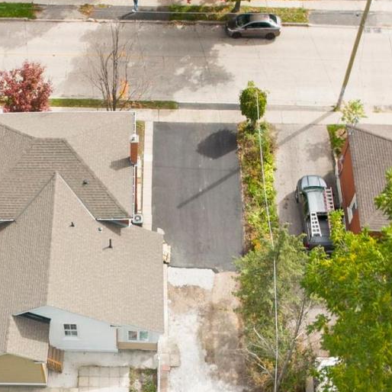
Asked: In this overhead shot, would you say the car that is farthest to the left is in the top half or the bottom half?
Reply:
top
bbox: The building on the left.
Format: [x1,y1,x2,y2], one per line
[0,111,166,387]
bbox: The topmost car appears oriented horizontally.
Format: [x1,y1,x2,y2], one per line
[224,17,282,42]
